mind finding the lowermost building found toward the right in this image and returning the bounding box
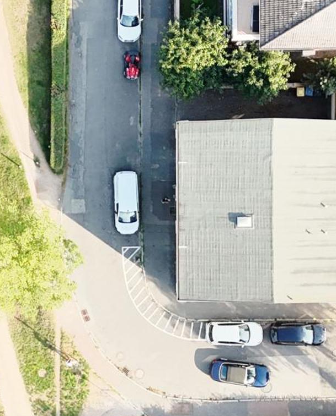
[172,119,336,304]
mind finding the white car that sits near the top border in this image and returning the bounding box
[115,0,144,42]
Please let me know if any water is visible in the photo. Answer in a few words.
No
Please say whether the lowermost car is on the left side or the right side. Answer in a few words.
right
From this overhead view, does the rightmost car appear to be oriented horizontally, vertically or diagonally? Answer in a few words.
horizontally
